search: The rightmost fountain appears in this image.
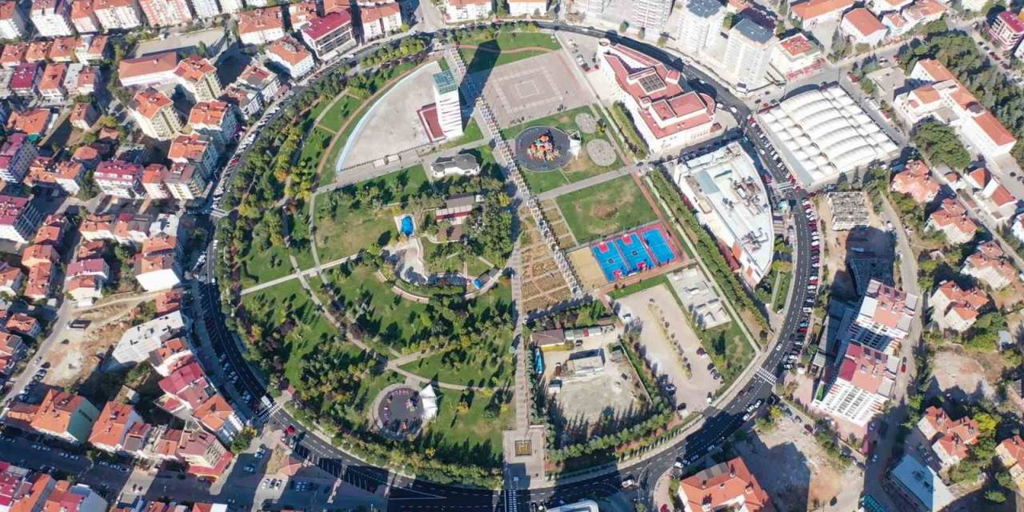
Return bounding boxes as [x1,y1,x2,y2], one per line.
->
[514,439,534,456]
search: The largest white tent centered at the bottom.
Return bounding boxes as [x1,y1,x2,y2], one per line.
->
[419,383,437,417]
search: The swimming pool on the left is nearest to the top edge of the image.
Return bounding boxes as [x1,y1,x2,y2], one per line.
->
[400,214,414,237]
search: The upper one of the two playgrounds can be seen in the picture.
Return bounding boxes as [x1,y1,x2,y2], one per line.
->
[514,125,571,172]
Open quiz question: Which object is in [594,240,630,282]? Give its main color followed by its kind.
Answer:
blue basketball court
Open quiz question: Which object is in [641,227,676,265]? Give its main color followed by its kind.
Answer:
blue tennis court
